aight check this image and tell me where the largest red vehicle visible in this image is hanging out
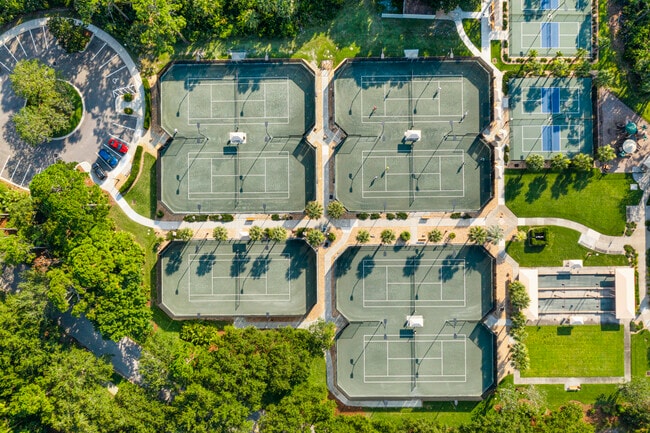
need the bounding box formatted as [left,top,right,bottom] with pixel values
[107,137,128,153]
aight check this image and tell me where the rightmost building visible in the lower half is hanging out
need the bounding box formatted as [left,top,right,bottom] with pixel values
[609,267,634,318]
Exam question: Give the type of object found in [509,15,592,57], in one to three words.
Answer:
sports court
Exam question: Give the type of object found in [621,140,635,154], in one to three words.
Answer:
umbrella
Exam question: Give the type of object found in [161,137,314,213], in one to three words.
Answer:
tennis court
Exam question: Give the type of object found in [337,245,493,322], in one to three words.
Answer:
tennis court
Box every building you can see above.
[515,268,537,319]
[609,267,634,318]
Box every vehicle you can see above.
[107,137,128,153]
[89,161,107,180]
[321,224,328,234]
[96,147,117,166]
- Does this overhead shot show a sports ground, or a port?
sports ground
